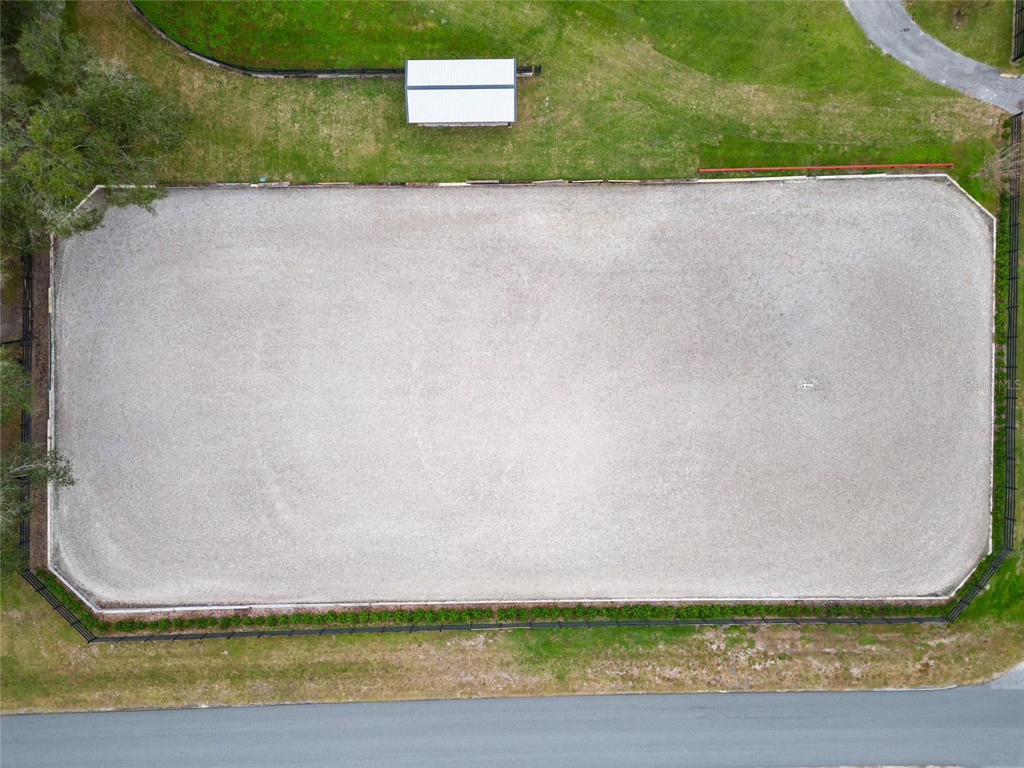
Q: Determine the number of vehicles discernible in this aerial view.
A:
0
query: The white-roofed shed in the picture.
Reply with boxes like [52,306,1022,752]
[405,60,517,127]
